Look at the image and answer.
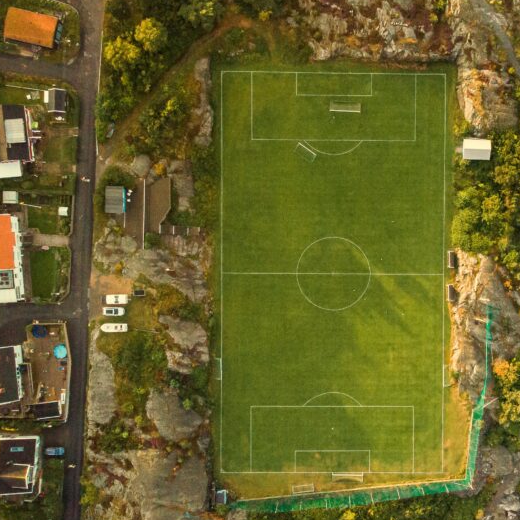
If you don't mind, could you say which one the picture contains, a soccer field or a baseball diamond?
soccer field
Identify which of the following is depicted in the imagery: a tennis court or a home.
home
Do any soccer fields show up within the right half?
Yes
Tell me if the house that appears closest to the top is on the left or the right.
left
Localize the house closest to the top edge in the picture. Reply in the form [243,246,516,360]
[2,7,66,49]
